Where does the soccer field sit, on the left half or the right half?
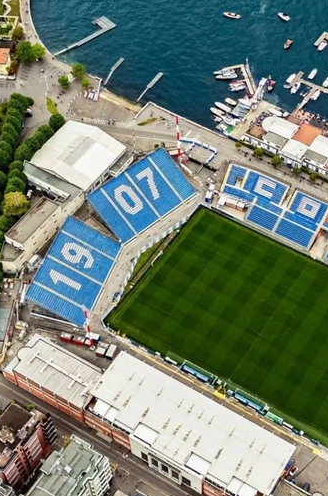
right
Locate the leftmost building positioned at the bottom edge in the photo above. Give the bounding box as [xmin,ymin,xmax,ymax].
[0,404,46,495]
